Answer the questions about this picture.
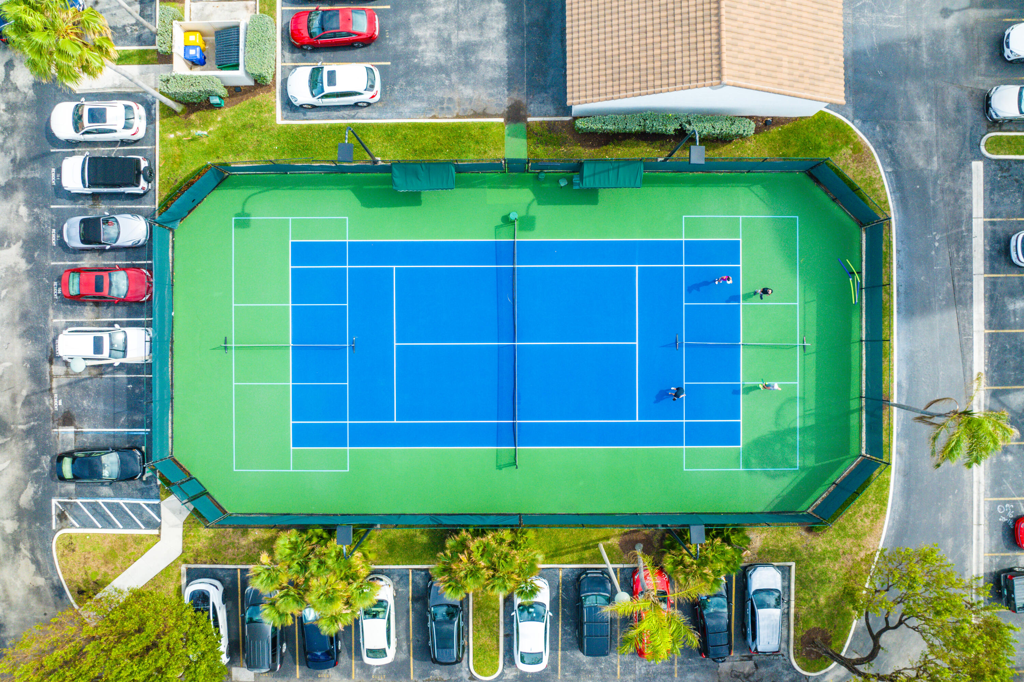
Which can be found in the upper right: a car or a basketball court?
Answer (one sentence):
You can see a car in the upper right.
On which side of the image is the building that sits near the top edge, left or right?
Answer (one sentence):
It is on the right.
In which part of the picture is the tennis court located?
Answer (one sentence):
Look in the center portion of the view to spot the tennis court.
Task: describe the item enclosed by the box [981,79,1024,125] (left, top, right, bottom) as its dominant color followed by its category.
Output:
white car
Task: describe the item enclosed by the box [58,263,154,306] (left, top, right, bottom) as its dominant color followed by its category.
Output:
red car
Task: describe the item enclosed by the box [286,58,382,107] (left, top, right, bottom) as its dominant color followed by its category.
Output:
white car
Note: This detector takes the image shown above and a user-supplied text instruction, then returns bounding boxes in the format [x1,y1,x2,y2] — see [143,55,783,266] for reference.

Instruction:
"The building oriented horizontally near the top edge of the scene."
[566,0,847,116]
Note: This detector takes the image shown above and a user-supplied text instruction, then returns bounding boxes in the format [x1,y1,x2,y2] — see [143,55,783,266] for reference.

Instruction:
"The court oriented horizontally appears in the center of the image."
[173,171,862,513]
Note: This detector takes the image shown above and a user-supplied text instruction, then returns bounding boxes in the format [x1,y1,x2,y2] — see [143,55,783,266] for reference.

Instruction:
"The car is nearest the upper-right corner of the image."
[999,23,1024,64]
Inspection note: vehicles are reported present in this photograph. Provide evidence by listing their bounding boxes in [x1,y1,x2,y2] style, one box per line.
[58,263,154,306]
[53,444,149,487]
[359,573,397,668]
[740,562,788,658]
[693,593,737,670]
[62,210,152,253]
[1005,231,1024,268]
[981,79,1024,125]
[50,96,149,143]
[423,581,467,670]
[52,322,154,367]
[286,58,382,107]
[1010,512,1024,549]
[302,609,343,673]
[509,578,552,674]
[574,569,615,661]
[999,23,1024,64]
[238,583,287,680]
[59,151,151,196]
[997,568,1024,612]
[289,3,381,51]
